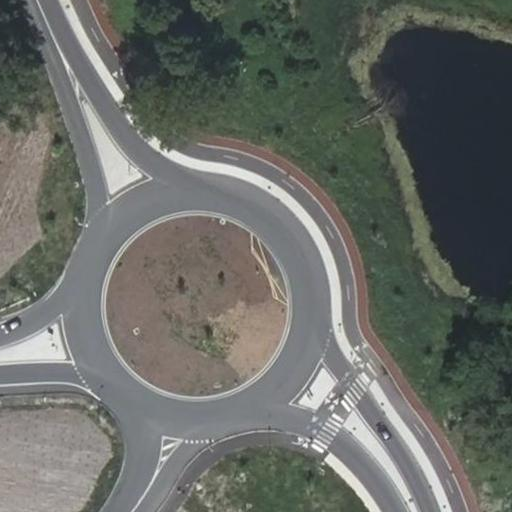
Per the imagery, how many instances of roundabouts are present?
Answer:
one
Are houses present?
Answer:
No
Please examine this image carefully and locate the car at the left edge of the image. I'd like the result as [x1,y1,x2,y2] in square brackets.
[2,318,20,332]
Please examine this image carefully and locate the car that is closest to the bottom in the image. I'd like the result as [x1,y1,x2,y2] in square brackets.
[376,422,392,441]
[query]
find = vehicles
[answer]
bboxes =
[2,318,20,332]
[376,422,392,441]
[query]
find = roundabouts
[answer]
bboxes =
[59,168,339,478]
